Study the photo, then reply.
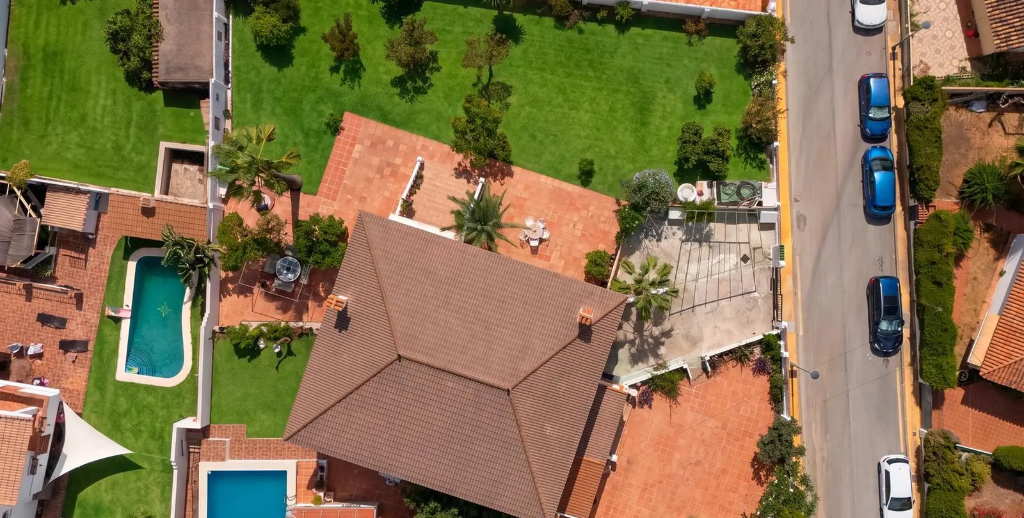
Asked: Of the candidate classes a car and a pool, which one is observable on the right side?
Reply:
car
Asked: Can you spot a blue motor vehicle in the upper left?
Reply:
No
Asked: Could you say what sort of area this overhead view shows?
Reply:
residential area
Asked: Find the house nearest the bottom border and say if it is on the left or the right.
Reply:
left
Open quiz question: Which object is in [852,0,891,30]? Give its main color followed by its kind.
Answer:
white car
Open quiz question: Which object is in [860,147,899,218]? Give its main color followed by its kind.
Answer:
blue car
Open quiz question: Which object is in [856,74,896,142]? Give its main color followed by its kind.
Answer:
blue car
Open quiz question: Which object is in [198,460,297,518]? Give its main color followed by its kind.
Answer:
blue swimming pool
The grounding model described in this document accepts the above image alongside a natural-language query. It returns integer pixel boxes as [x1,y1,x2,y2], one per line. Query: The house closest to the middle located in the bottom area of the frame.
[282,209,631,518]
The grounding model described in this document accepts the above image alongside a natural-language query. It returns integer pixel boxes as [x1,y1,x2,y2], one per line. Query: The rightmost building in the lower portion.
[956,234,1024,395]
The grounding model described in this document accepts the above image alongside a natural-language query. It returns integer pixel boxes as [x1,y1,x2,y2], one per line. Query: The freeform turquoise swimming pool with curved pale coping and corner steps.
[115,247,199,387]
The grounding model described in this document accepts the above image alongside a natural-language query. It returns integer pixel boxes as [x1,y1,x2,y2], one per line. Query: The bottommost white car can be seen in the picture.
[878,454,919,518]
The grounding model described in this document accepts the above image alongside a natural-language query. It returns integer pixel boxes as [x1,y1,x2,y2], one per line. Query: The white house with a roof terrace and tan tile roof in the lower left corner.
[0,378,66,518]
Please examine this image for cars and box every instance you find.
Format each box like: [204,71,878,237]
[865,276,909,351]
[852,0,891,30]
[856,74,896,142]
[860,147,899,218]
[878,454,919,518]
